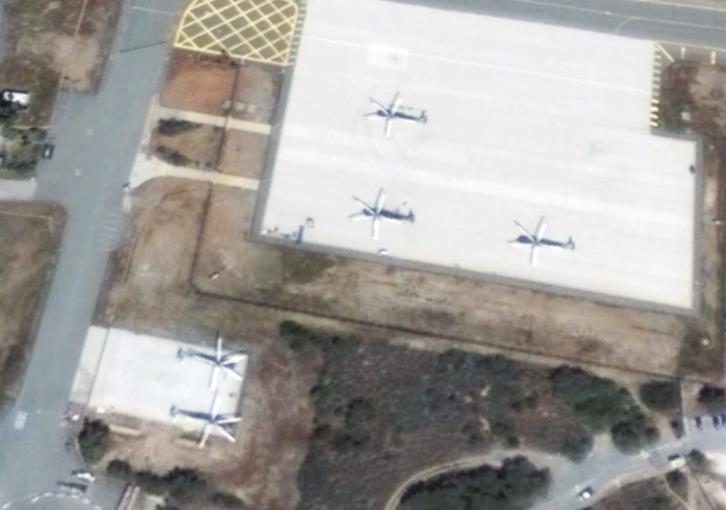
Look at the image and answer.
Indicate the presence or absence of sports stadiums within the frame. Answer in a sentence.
No, I find no sports stadium anywhere in the image.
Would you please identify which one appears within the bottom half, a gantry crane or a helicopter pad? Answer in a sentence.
Looking within the bottom half, you will find a helicopter pad.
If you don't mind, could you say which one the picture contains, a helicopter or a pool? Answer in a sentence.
Visible in the photo is a helicopter.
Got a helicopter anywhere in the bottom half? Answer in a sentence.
Yes, the scene does show a helicopter in the bottom half.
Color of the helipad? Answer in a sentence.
The helipad is white.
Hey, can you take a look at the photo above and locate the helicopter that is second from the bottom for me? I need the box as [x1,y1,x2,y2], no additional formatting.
[177,334,247,391]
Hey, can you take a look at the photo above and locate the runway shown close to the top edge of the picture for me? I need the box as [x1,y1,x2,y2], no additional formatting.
[391,0,726,52]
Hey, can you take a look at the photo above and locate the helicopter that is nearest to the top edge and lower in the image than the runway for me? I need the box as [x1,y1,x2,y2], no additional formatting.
[368,92,428,138]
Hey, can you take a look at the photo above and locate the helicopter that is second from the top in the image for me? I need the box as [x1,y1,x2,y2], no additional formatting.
[352,192,412,238]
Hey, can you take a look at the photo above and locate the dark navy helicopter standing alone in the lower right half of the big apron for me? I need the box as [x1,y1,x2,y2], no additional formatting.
[512,220,571,267]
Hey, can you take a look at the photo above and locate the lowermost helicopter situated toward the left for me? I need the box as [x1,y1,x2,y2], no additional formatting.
[170,393,240,448]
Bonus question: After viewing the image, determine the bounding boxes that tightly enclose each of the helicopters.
[177,334,247,391]
[512,220,571,267]
[170,393,240,448]
[368,92,428,138]
[352,192,412,238]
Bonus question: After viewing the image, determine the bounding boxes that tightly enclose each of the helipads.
[70,326,250,433]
